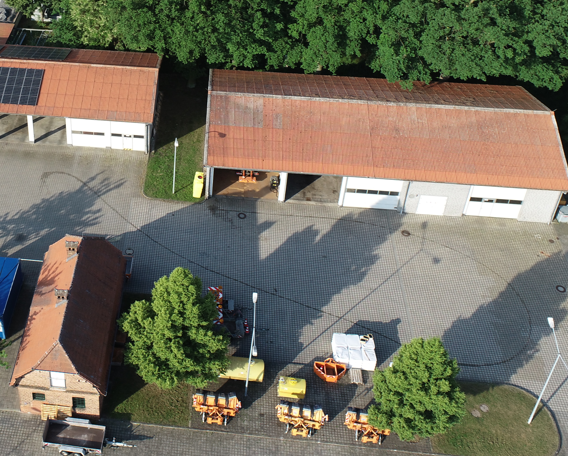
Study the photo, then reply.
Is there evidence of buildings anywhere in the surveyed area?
Yes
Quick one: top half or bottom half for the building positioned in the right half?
top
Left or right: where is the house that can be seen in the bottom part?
left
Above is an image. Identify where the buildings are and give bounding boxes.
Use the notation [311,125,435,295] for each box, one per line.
[203,67,568,226]
[8,233,130,421]
[0,44,162,153]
